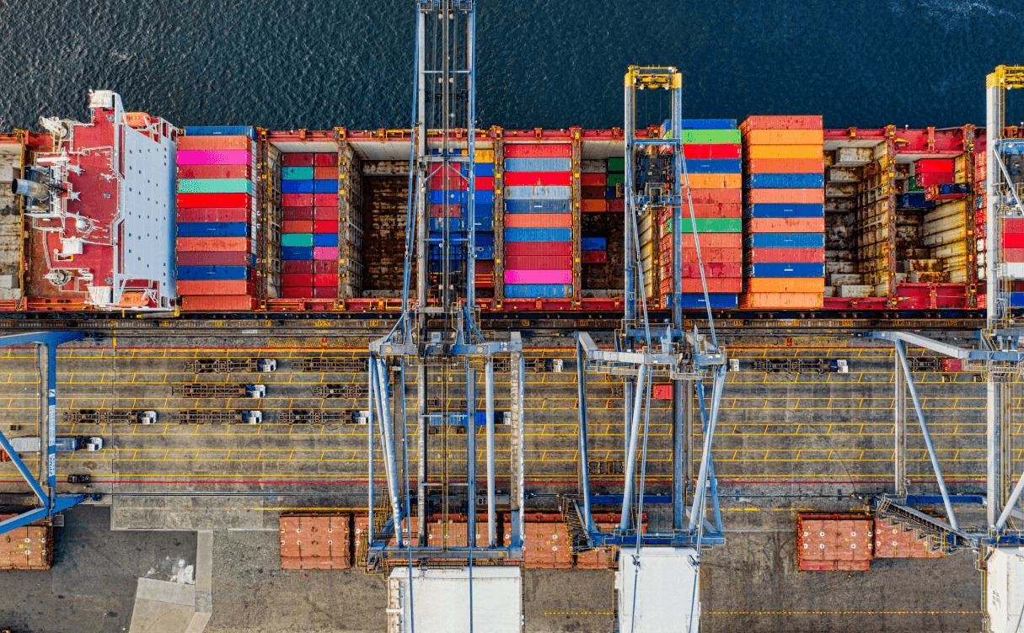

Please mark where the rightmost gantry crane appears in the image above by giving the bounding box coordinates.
[859,68,1024,633]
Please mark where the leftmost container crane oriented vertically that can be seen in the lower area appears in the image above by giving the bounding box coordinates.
[0,330,89,533]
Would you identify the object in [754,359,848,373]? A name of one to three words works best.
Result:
vehicle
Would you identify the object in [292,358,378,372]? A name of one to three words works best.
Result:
vehicle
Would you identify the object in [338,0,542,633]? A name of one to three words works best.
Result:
container crane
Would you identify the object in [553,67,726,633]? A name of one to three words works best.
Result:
container crane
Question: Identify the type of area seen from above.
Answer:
port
